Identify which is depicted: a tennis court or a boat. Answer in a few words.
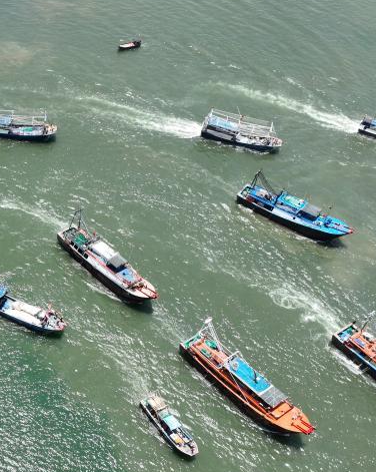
boat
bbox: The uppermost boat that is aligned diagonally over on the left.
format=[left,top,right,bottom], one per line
[58,216,163,303]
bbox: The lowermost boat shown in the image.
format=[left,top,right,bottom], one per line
[141,395,200,453]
